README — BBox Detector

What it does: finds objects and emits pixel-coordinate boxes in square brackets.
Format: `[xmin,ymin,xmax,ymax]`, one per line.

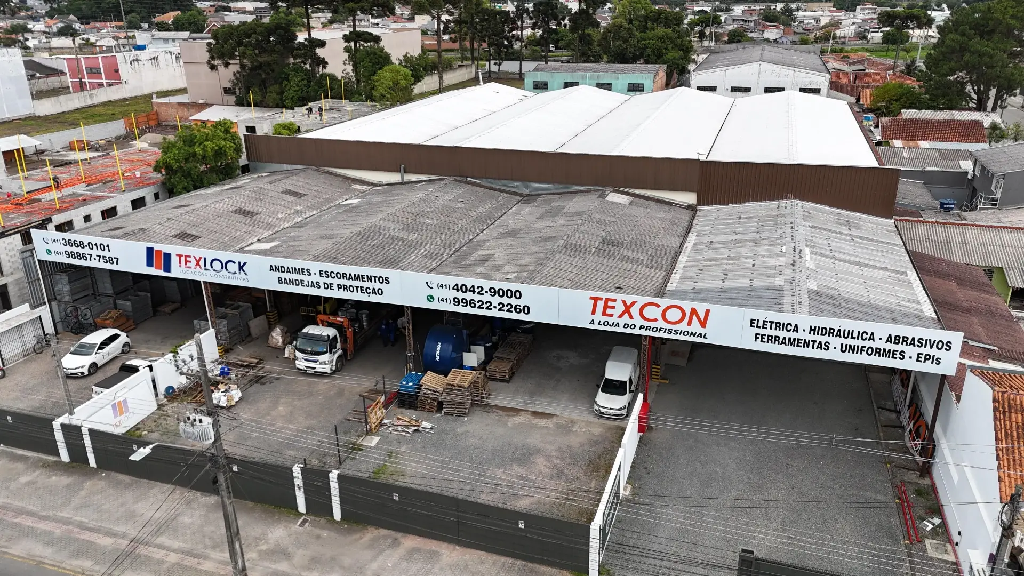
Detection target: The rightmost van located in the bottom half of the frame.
[591,348,637,416]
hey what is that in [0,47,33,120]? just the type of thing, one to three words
building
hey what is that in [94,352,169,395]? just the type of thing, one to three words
truck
